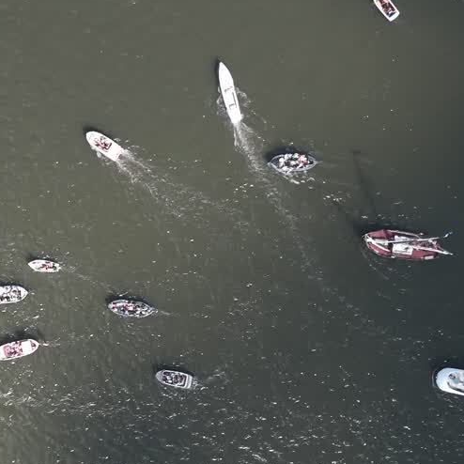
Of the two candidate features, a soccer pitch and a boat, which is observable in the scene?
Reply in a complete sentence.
The one in the frame is a boat.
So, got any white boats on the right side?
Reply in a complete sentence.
Yes, on the right side there is a white boat.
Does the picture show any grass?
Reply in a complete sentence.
No, there's no grass in this view.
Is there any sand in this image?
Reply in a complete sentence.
No, sand can't be seen anywhere here.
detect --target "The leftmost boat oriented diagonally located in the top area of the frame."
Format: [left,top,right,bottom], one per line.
[87,130,126,163]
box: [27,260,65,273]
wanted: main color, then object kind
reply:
white boat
